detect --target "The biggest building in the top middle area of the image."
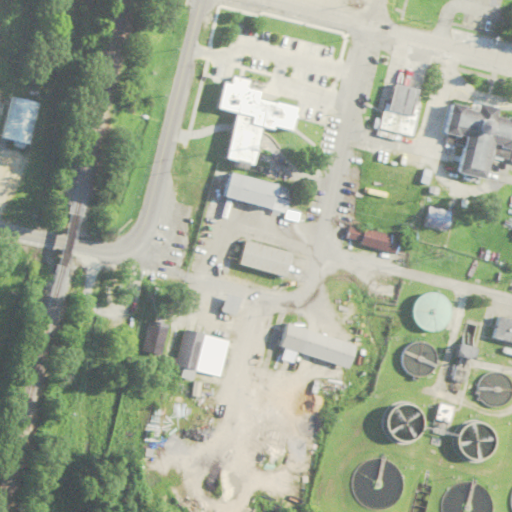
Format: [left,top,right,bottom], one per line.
[218,76,299,171]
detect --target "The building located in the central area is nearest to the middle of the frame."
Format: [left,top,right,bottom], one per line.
[238,242,294,278]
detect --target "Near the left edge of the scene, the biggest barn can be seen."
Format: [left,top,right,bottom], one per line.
[3,98,40,144]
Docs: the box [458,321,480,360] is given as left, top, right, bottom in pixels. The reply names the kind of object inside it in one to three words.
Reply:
building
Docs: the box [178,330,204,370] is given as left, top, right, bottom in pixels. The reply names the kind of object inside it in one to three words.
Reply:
shed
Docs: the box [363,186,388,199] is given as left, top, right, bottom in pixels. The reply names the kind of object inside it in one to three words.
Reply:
vehicle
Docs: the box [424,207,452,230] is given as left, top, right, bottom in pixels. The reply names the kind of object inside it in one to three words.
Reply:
house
